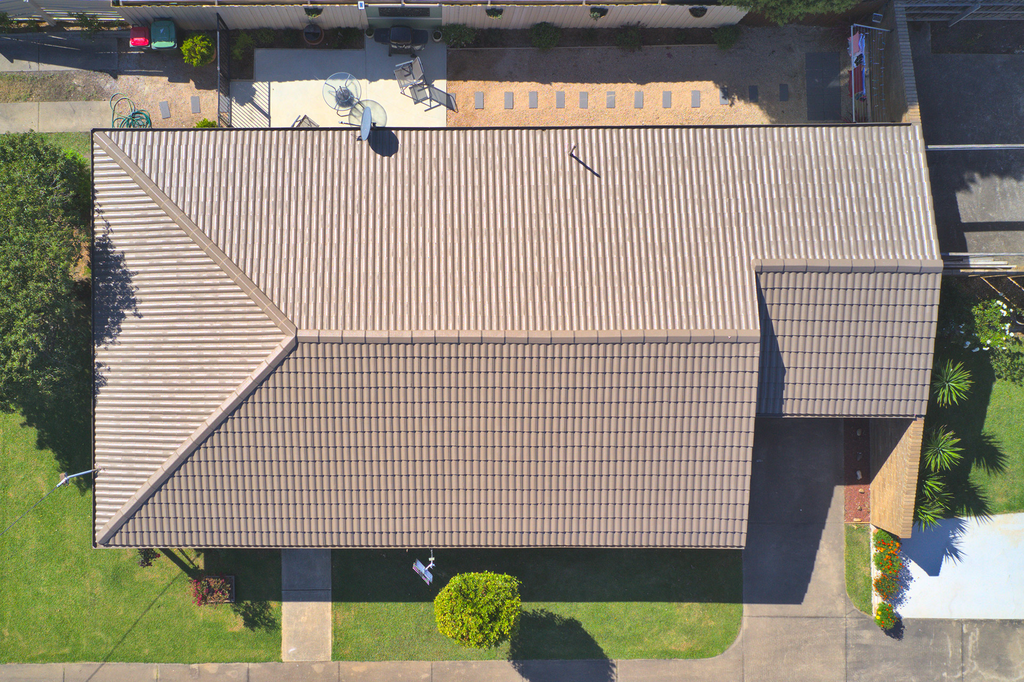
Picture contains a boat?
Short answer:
No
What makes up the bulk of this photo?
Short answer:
buildings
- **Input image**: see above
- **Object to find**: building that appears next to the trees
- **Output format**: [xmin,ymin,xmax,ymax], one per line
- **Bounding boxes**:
[93,126,945,548]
